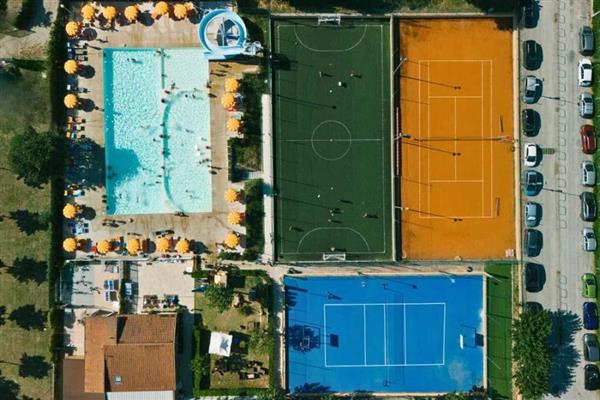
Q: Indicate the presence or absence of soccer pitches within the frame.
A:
Yes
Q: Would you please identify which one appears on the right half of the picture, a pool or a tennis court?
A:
tennis court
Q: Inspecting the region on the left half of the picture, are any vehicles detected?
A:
No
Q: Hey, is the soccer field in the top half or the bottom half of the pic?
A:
top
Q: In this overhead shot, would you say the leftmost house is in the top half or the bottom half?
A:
bottom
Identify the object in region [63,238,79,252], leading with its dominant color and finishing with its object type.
orange umbrella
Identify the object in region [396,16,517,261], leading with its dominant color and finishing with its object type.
orange tennis court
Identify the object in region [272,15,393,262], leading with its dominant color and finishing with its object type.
green soccer field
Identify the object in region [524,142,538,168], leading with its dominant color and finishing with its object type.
white car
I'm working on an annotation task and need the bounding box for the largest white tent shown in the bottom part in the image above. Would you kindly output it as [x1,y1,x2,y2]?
[209,329,234,355]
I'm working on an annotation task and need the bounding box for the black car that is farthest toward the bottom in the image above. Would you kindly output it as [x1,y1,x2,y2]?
[584,363,599,391]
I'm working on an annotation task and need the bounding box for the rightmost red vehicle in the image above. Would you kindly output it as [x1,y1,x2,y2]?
[579,124,595,155]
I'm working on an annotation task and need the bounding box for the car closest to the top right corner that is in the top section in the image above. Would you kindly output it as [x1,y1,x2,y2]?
[578,23,595,57]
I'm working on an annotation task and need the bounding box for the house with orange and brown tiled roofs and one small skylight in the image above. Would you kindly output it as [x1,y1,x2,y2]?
[63,312,179,400]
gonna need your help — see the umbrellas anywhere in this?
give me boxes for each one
[103,6,117,21]
[227,118,241,132]
[224,189,239,203]
[64,60,78,75]
[174,5,189,19]
[175,238,190,253]
[97,240,111,254]
[126,238,140,253]
[125,7,139,22]
[156,237,171,252]
[155,2,169,18]
[66,22,81,36]
[63,203,77,218]
[63,238,79,252]
[224,233,238,248]
[81,5,96,20]
[227,210,241,225]
[221,95,236,110]
[64,94,79,110]
[225,77,239,93]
